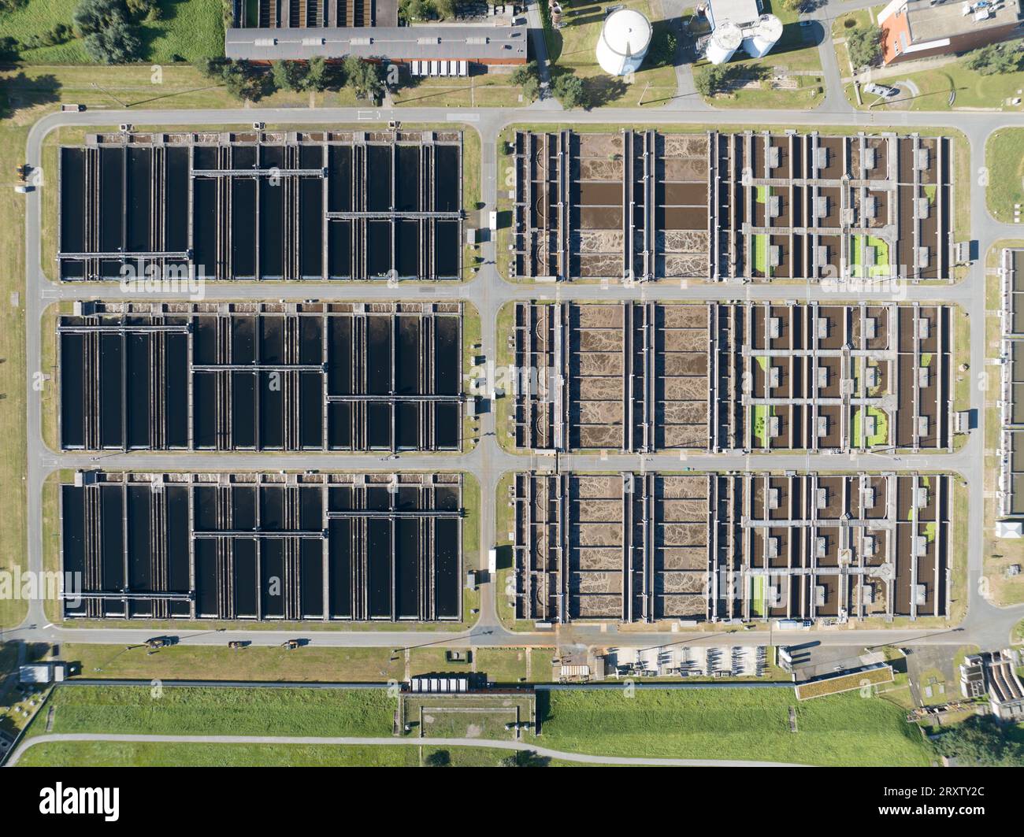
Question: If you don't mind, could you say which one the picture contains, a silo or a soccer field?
silo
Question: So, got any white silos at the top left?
No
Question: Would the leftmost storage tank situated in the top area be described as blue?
No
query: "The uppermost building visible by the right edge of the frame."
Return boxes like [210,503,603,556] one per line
[877,0,1021,65]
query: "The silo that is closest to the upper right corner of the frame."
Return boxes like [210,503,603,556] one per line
[745,12,785,57]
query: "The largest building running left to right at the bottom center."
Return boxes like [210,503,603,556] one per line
[398,689,536,739]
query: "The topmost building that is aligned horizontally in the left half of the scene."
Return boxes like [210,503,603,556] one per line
[224,28,527,64]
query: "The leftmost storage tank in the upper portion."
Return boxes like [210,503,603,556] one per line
[598,6,655,77]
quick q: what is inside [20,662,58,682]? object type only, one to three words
shed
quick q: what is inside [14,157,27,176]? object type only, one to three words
vehicle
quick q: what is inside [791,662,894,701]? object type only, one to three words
building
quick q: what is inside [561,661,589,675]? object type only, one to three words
building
